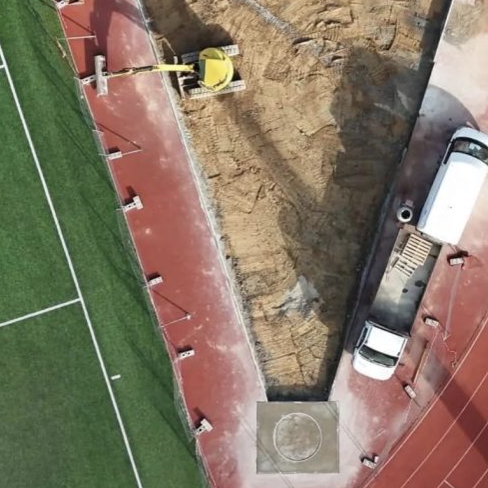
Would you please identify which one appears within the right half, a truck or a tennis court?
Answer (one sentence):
Visible within the right half is a truck.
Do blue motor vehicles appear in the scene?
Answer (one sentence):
No, no blue motor vehicle is visible in the view.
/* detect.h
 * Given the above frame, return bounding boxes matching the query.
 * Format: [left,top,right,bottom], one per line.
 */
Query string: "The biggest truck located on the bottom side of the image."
[358,229,445,373]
